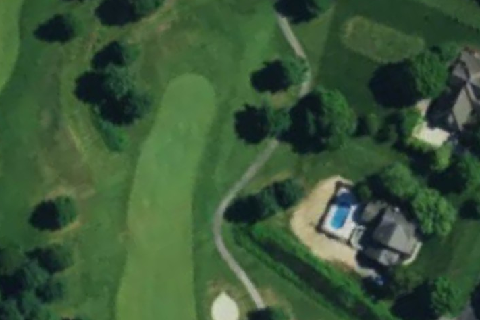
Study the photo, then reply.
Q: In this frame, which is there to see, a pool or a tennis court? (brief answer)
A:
pool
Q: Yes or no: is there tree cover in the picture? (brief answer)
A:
Yes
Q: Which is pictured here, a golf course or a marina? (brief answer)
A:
golf course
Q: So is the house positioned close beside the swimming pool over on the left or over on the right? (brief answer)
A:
right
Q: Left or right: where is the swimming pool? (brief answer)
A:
right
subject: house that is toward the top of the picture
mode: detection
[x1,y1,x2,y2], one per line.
[436,42,480,135]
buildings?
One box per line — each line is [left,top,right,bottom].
[436,42,480,135]
[358,201,421,269]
